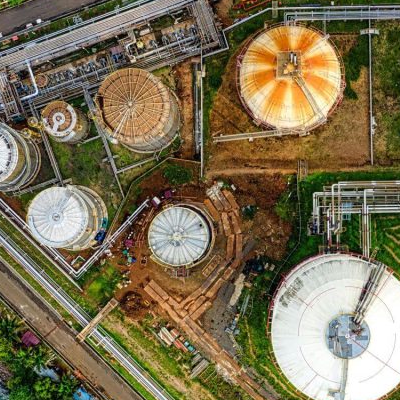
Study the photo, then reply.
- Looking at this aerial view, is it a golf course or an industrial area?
industrial area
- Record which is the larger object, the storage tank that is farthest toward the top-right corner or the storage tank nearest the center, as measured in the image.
the storage tank that is farthest toward the top-right corner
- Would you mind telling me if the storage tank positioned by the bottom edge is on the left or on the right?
right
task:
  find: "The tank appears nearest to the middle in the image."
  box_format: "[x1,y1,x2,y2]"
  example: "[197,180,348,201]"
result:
[149,202,218,278]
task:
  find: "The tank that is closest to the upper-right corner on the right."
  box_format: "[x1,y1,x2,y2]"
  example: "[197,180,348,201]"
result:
[212,23,346,141]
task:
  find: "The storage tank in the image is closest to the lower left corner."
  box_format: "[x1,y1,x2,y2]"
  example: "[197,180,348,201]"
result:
[25,184,108,252]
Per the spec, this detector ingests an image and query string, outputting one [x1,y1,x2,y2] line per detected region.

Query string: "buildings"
[75,386,97,400]
[21,330,43,347]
